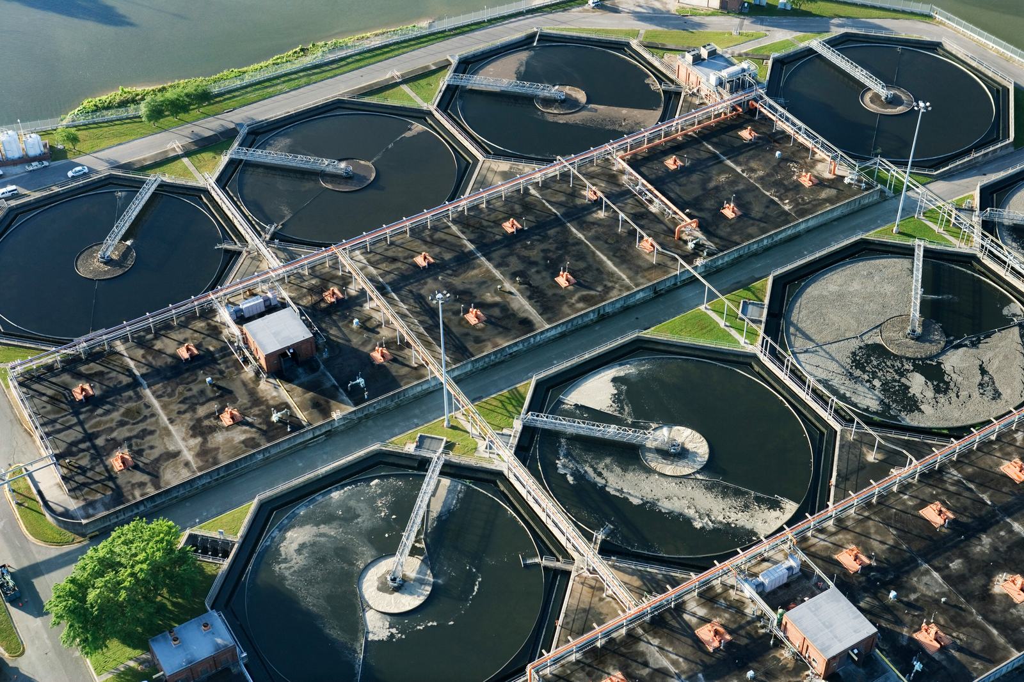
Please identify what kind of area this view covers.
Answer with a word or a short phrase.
industrial area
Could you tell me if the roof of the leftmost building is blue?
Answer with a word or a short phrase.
Yes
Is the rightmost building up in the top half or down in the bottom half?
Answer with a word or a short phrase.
bottom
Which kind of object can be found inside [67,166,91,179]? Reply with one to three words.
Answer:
vehicle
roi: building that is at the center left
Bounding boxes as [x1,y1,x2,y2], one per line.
[241,305,314,373]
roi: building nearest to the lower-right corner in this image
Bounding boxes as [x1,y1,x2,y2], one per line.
[776,584,876,678]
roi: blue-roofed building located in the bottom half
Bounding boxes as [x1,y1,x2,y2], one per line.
[147,611,235,682]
